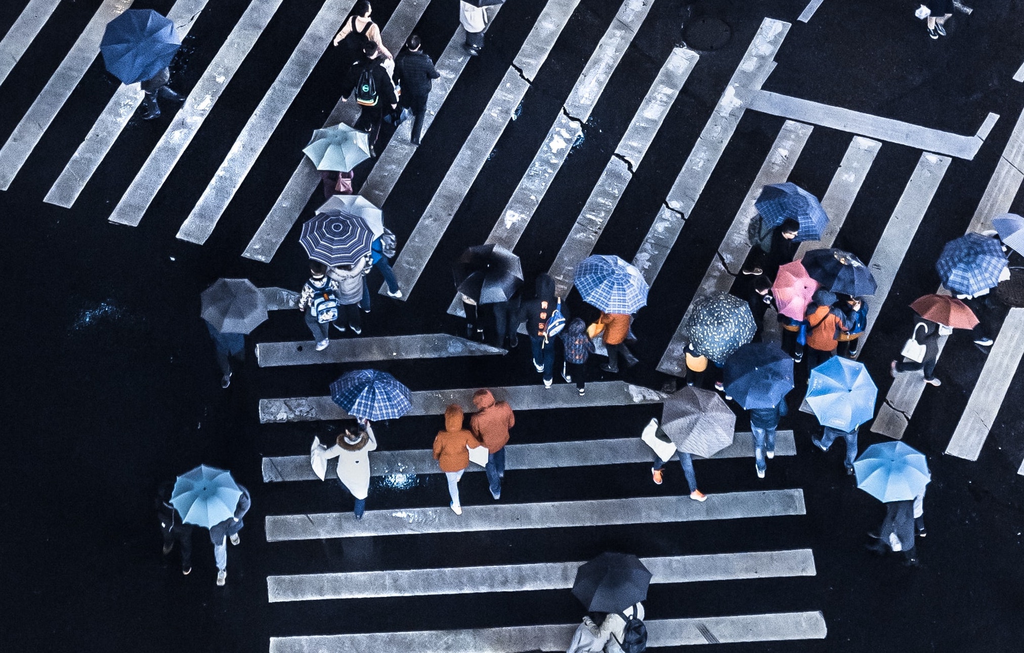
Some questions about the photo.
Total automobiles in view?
0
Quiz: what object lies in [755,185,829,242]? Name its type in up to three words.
umbrella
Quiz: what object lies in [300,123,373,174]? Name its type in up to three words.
umbrella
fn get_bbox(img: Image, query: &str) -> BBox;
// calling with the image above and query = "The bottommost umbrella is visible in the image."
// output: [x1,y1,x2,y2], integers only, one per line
[571,548,652,618]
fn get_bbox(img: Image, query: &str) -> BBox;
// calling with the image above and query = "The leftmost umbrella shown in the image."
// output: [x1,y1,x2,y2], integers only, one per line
[99,10,184,85]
